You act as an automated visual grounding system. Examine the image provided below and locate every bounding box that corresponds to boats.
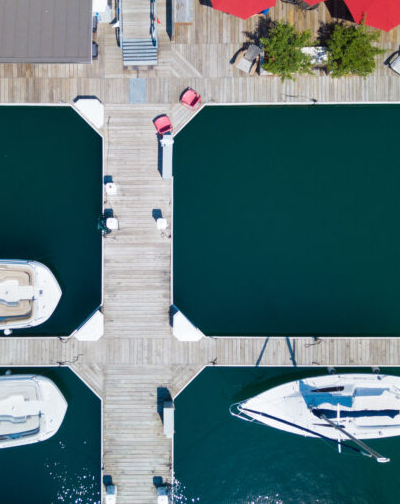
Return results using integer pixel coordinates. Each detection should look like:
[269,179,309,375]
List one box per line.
[0,258,62,330]
[229,373,400,463]
[0,372,67,446]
